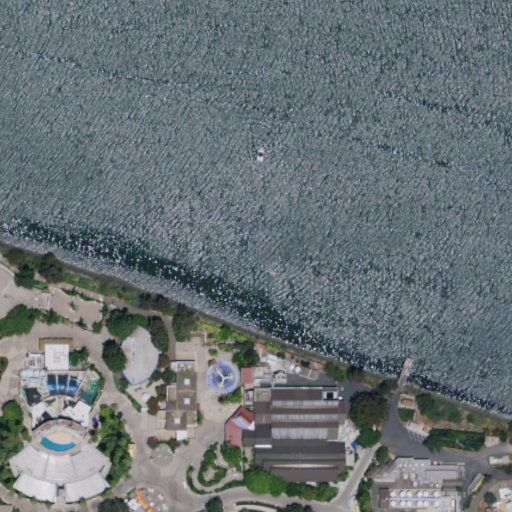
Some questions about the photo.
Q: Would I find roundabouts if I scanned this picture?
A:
No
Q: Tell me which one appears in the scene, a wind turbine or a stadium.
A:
stadium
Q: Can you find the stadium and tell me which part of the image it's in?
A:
bottom left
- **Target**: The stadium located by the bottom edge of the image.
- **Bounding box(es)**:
[8,417,110,504]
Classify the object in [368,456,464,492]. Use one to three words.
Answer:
building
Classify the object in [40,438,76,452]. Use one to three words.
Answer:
swimming pool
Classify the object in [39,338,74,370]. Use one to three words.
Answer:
building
